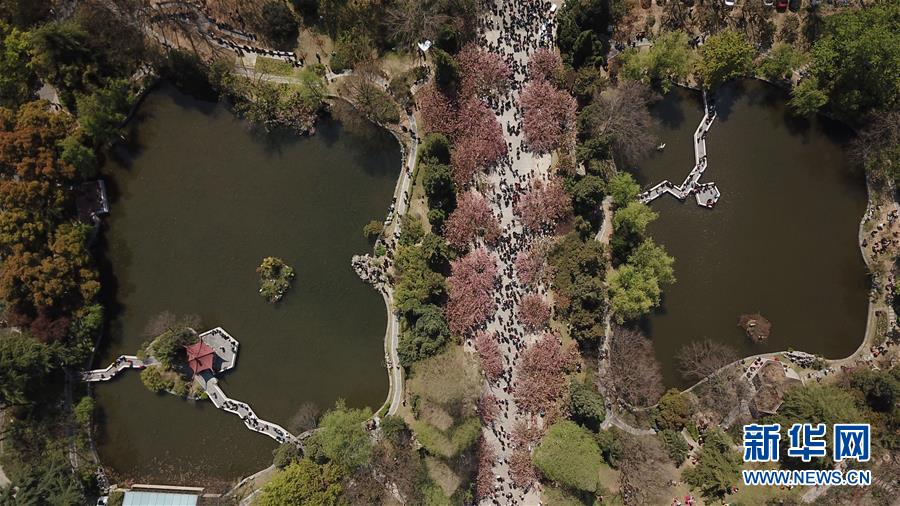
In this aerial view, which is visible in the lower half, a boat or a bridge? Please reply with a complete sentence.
The one visible in the lower half is a bridge.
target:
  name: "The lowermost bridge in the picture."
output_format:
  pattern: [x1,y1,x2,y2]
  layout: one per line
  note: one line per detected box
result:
[202,376,307,457]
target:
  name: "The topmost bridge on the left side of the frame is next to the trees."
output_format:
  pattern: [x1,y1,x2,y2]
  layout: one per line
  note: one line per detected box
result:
[82,356,148,382]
